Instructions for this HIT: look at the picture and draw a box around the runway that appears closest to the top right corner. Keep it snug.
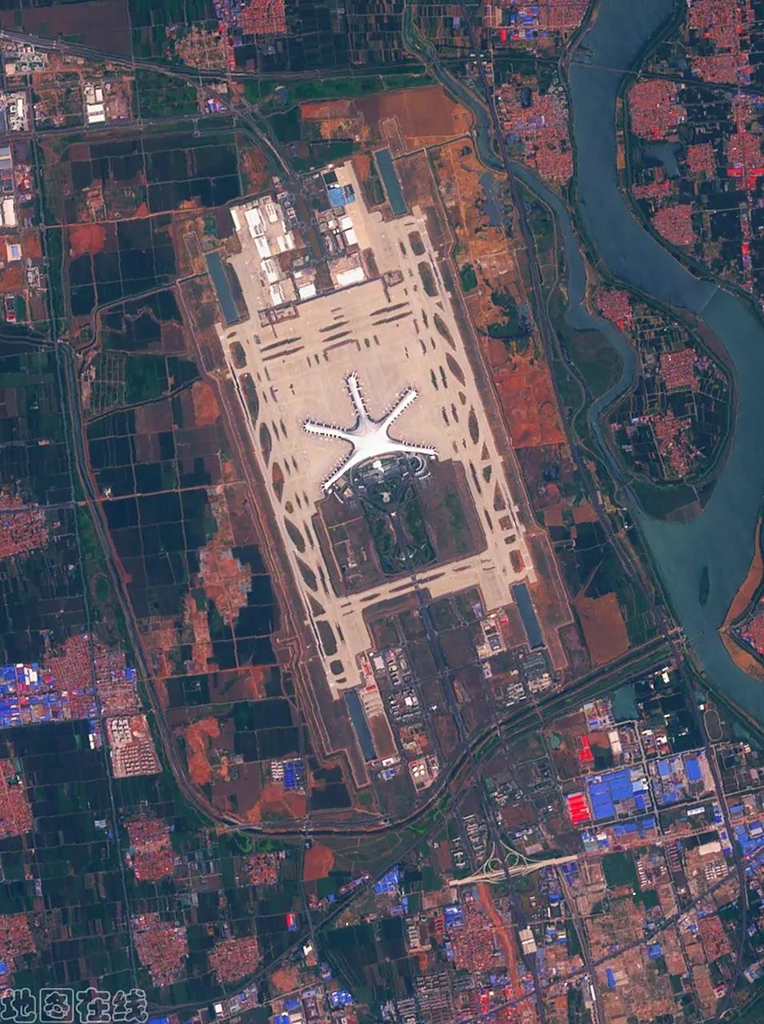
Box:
[420,210,532,560]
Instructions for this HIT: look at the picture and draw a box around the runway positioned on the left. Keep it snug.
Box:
[225,357,334,688]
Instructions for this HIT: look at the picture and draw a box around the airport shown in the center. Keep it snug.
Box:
[178,116,574,789]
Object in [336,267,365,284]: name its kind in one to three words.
shed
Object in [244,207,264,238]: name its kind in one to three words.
hangar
